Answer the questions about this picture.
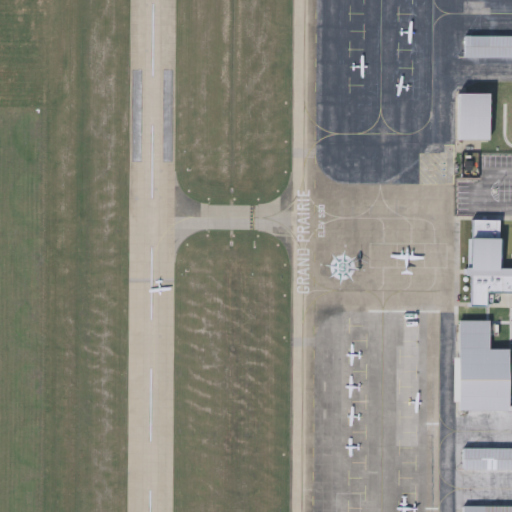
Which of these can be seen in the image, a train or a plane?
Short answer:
plane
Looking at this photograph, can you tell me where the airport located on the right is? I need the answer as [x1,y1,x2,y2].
[128,0,512,512]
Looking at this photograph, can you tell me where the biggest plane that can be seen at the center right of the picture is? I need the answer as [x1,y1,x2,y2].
[391,247,425,274]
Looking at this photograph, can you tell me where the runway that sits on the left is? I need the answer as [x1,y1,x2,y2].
[128,0,176,512]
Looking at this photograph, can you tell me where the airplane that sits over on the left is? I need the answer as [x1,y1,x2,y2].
[149,280,172,296]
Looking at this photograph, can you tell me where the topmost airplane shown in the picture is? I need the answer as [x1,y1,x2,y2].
[400,20,416,44]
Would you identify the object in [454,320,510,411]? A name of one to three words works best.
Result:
hangar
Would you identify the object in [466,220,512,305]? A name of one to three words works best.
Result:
building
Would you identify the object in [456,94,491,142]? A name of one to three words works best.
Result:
hangar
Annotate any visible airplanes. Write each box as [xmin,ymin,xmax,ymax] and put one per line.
[396,75,410,96]
[408,392,422,414]
[348,404,360,426]
[397,496,417,512]
[391,247,425,274]
[400,20,416,44]
[346,344,361,366]
[149,280,172,296]
[352,54,368,78]
[345,437,360,458]
[346,376,360,398]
